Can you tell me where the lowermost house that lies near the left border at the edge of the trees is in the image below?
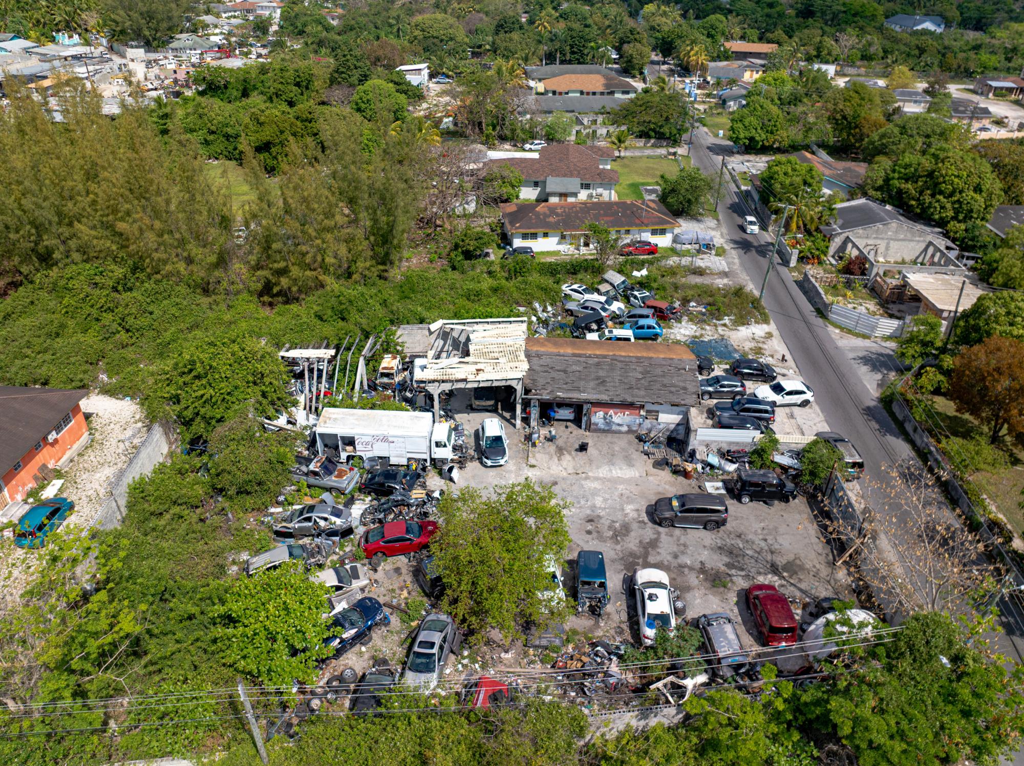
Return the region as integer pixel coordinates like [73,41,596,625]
[0,379,105,568]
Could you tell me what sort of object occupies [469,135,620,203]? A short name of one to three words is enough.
house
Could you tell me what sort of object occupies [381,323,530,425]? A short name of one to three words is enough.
shed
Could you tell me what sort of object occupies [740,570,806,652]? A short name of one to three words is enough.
car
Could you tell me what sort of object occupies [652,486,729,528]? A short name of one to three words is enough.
car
